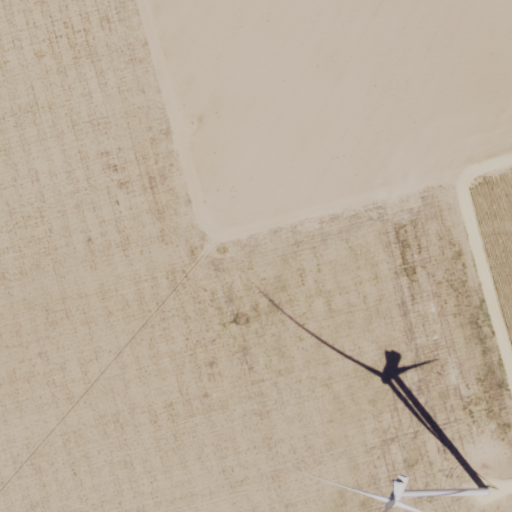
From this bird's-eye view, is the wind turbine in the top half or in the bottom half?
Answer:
bottom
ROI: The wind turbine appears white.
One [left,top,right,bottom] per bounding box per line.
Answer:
[280,466,494,512]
